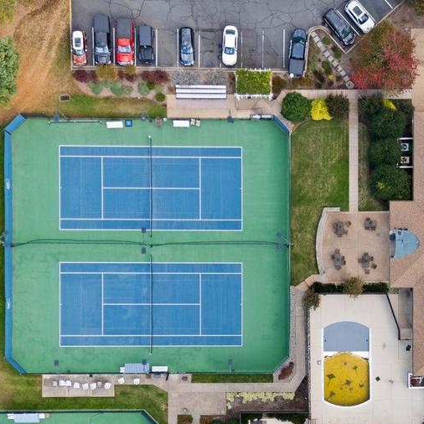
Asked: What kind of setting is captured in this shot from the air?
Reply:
sports ground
